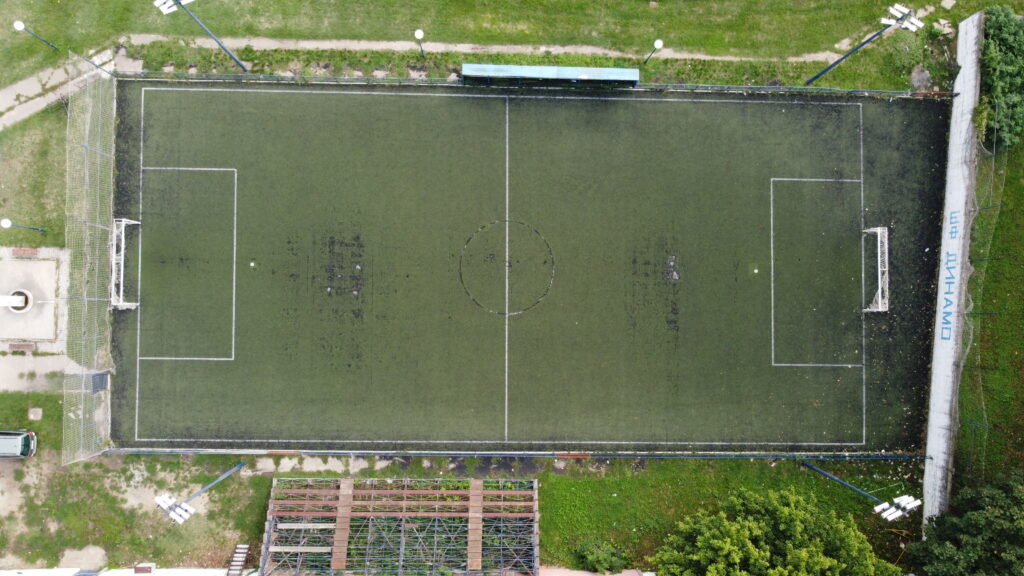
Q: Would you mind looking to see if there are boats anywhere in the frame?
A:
No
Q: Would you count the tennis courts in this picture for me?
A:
none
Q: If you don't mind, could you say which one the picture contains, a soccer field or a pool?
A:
soccer field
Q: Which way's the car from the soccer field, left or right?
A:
to the left of it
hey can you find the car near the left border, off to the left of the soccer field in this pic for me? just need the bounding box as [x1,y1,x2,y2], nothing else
[0,430,39,457]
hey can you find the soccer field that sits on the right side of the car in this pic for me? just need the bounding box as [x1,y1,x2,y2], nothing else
[110,83,954,453]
